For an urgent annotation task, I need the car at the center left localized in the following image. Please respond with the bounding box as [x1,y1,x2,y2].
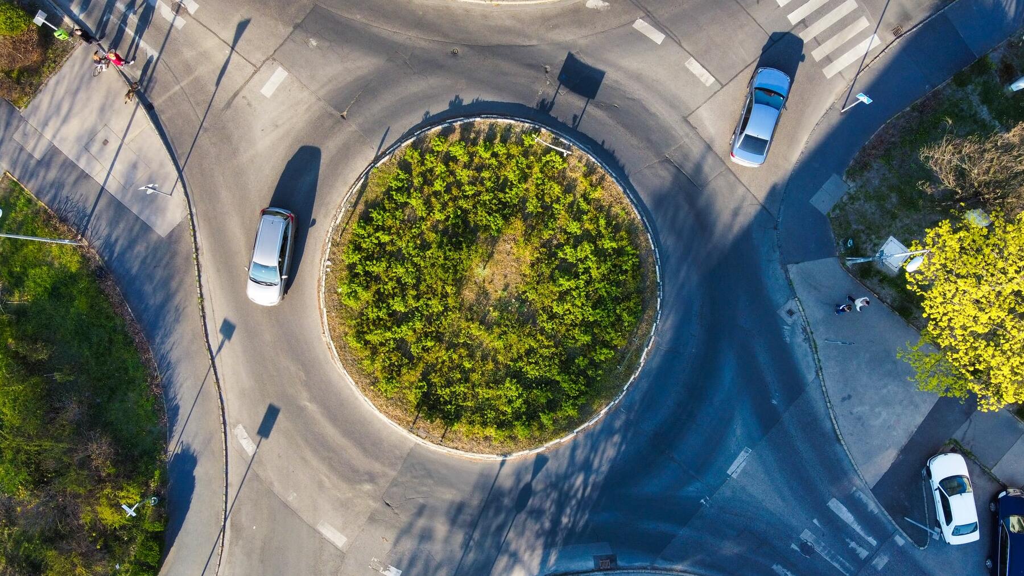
[243,208,300,306]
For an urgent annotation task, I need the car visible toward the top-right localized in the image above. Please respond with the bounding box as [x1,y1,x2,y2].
[728,66,789,169]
